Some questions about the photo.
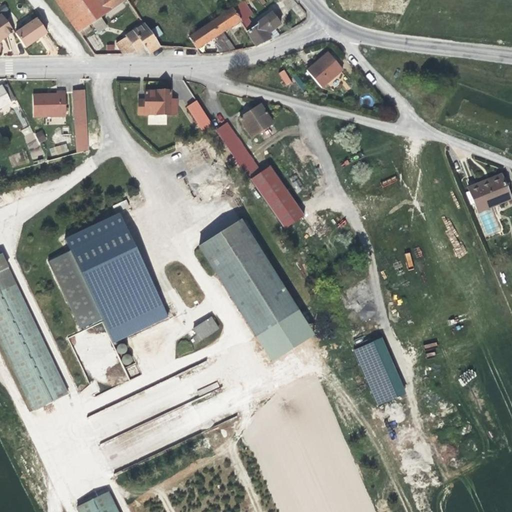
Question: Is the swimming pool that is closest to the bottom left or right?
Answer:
right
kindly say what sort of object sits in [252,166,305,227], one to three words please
building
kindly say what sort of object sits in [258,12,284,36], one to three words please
house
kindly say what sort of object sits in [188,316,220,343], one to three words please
shed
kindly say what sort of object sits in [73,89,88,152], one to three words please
barn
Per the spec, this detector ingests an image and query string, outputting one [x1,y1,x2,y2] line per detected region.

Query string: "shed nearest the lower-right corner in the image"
[354,338,406,406]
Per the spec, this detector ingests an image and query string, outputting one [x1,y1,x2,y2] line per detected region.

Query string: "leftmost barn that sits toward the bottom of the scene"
[0,250,68,411]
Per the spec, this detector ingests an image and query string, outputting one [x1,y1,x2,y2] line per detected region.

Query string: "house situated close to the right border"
[468,172,512,212]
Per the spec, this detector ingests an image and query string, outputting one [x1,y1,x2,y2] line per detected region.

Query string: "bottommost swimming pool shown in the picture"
[478,211,500,236]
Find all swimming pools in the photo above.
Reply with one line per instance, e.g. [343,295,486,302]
[478,211,500,236]
[360,93,374,107]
